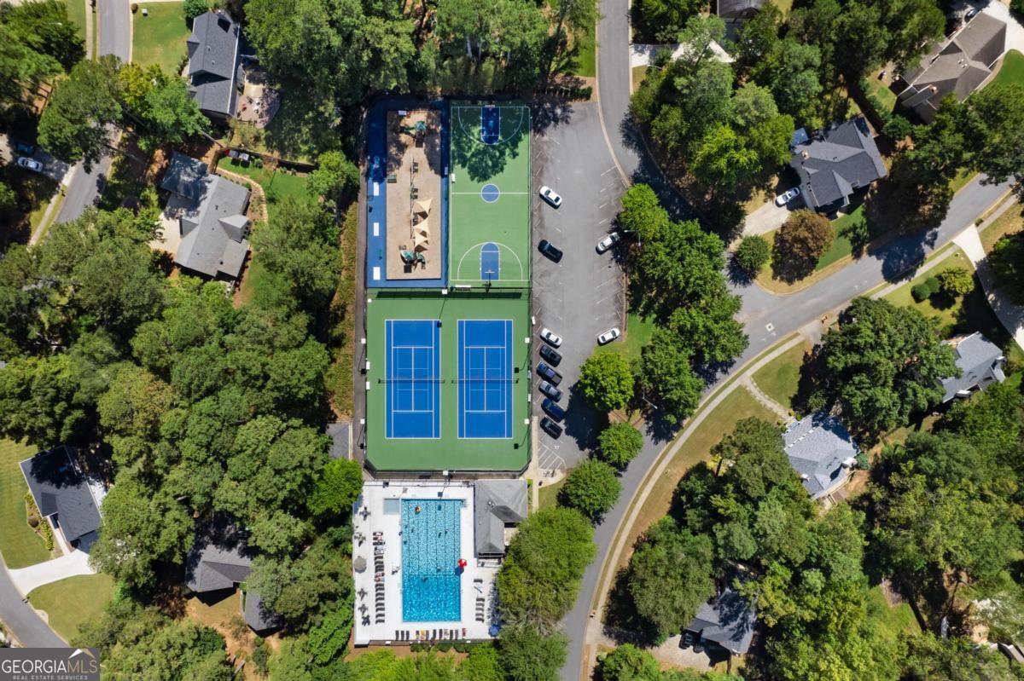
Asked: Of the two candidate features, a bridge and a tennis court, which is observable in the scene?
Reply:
tennis court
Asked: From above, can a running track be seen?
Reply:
No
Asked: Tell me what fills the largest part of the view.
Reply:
trees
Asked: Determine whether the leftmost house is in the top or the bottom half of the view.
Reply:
bottom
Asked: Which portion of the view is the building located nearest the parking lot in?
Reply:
bottom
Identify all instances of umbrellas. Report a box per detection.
[489,625,501,637]
[354,558,367,571]
[458,557,467,568]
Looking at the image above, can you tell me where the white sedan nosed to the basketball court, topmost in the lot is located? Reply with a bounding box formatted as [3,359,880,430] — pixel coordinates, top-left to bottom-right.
[539,187,563,206]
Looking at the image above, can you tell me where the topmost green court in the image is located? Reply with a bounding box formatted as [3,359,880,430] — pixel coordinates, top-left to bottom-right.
[449,100,530,287]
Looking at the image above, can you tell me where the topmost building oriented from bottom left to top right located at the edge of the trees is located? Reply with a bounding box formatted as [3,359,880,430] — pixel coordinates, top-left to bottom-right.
[889,11,1007,117]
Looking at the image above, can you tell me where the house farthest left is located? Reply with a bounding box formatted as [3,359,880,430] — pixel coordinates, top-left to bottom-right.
[19,445,100,542]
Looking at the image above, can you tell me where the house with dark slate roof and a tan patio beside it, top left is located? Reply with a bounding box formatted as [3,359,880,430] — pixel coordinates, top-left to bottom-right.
[185,8,249,120]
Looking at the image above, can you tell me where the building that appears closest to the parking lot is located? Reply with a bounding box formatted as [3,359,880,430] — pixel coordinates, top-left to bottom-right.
[474,478,528,564]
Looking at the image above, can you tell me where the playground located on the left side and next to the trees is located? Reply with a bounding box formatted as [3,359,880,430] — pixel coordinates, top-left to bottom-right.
[367,98,448,287]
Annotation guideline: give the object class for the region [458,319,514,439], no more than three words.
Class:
tennis court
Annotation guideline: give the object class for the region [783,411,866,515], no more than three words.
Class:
house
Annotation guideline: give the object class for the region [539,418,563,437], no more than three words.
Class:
car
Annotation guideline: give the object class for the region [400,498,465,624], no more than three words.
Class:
swimming pool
